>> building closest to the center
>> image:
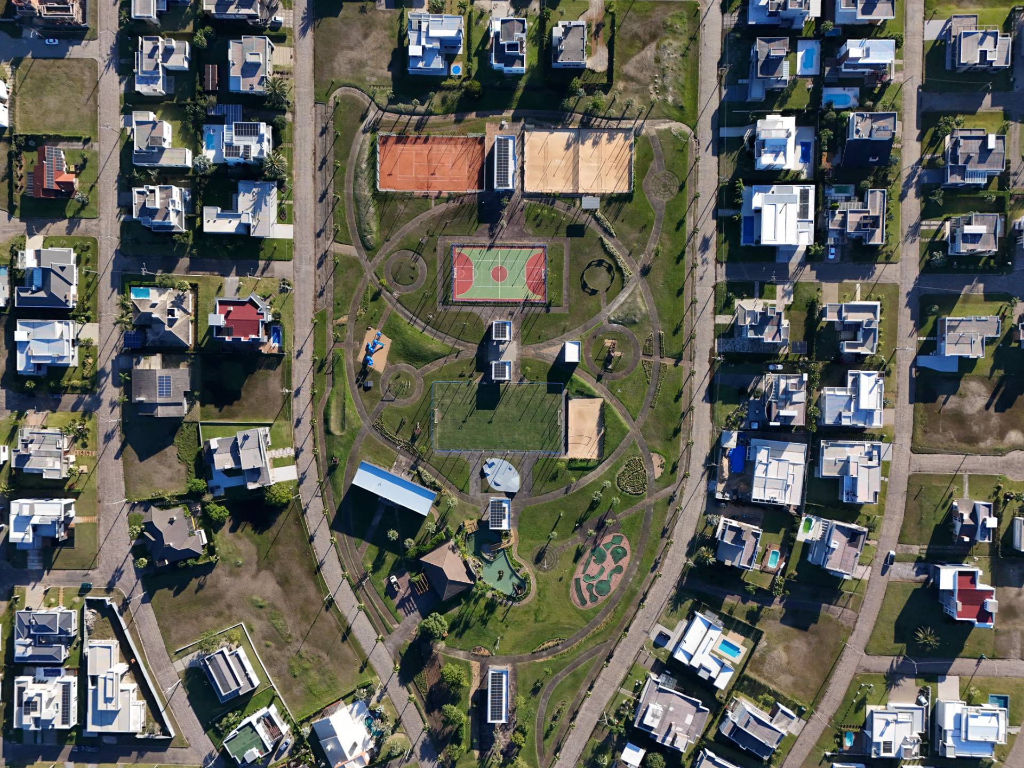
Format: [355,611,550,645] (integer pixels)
[492,361,511,380]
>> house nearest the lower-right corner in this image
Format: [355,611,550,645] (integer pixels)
[936,696,1007,763]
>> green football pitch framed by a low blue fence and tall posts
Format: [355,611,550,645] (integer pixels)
[430,382,564,453]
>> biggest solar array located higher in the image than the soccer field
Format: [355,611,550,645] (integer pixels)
[497,138,509,188]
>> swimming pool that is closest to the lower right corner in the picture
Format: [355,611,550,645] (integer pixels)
[989,694,1009,707]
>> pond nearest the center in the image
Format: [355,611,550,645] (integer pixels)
[464,520,526,597]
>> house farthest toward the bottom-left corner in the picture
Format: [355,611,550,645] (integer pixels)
[14,674,79,729]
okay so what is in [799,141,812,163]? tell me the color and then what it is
blue swimming pool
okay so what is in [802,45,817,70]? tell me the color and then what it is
blue swimming pool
